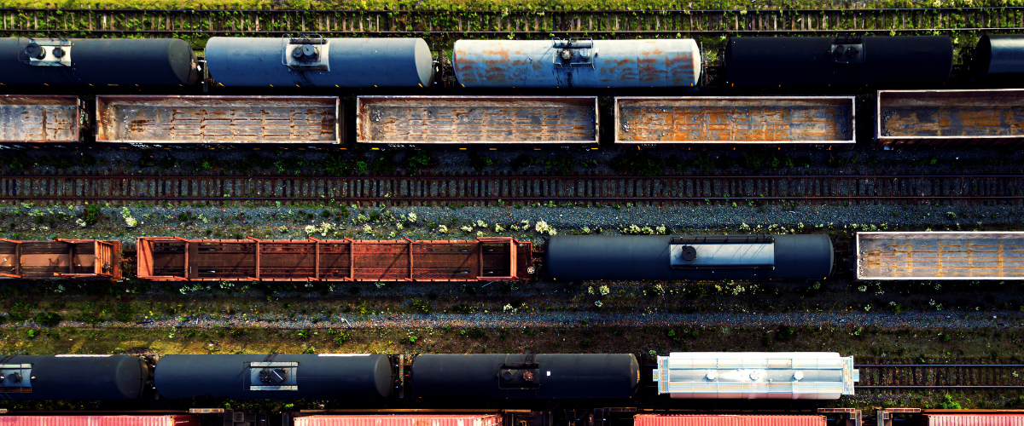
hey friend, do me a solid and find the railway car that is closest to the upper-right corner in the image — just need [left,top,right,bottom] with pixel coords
[952,34,1024,90]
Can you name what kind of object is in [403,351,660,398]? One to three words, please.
rail car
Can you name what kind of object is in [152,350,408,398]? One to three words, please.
rail car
